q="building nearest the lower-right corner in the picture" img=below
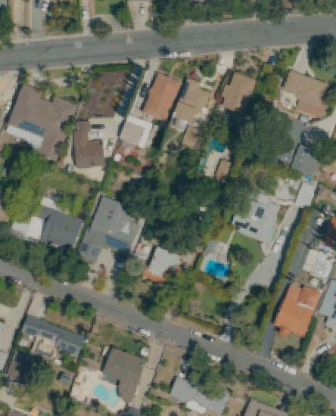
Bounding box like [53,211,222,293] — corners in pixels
[243,394,296,416]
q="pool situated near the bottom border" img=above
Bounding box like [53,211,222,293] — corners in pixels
[95,382,119,405]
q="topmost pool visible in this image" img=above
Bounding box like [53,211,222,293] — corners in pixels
[202,258,231,280]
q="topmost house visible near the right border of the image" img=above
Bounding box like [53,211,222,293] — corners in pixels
[286,72,331,116]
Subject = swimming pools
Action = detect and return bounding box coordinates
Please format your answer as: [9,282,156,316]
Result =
[95,382,119,405]
[202,258,231,280]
